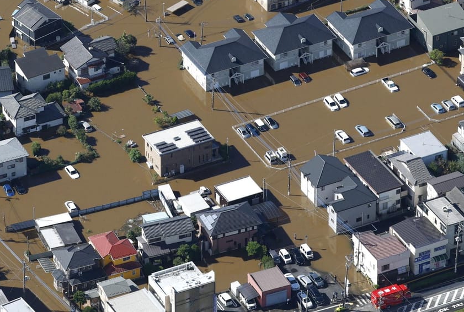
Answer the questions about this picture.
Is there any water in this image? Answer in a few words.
Yes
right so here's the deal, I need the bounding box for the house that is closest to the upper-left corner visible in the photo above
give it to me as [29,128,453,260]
[14,4,61,44]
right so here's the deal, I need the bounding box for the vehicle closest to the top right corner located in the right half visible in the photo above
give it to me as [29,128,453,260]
[421,67,437,80]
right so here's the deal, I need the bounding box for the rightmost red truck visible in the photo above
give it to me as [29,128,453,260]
[372,286,410,310]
